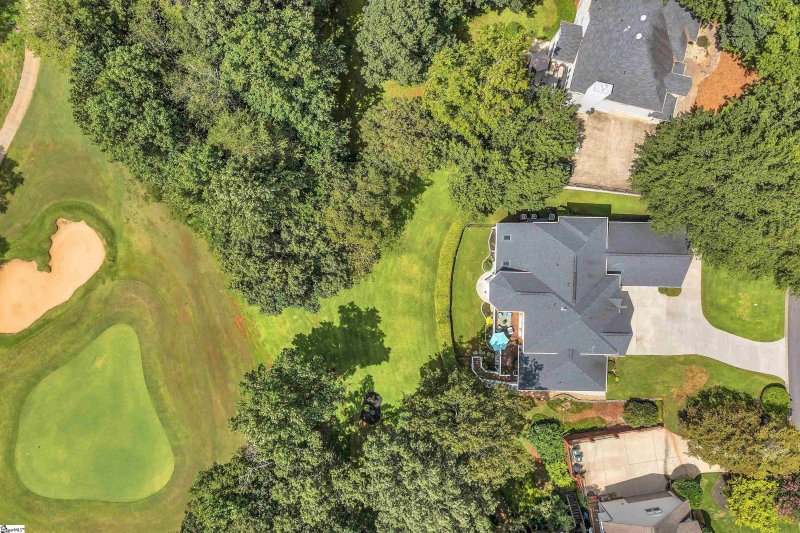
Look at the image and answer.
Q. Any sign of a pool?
No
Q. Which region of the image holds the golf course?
left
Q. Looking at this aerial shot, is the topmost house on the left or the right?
right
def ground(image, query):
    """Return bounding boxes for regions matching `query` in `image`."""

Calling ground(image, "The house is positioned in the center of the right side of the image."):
[484,216,690,393]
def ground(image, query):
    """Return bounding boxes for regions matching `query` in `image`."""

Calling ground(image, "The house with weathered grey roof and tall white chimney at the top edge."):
[548,0,701,124]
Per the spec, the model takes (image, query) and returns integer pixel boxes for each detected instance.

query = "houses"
[484,216,690,393]
[591,491,702,533]
[548,0,701,124]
